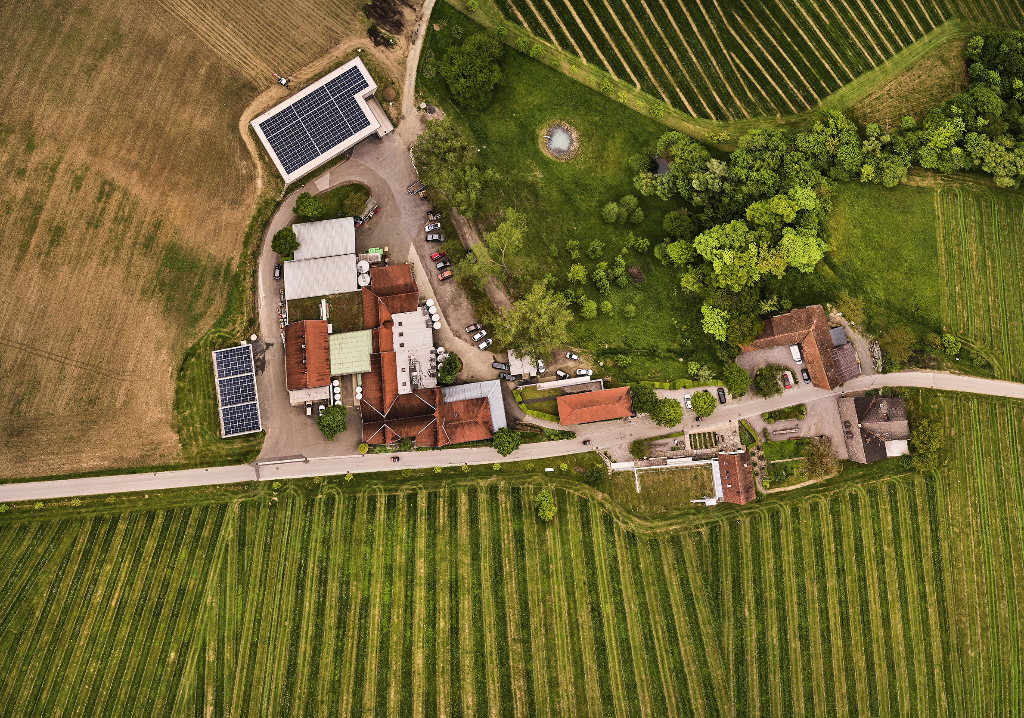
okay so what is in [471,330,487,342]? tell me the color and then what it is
white vehicle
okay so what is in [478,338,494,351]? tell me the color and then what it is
white vehicle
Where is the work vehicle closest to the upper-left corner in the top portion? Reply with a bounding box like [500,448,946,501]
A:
[271,70,290,87]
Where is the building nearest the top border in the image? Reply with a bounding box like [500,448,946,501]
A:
[250,56,383,187]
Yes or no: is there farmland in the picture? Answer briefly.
Yes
